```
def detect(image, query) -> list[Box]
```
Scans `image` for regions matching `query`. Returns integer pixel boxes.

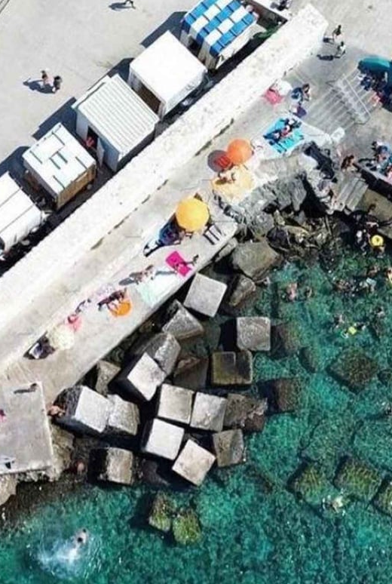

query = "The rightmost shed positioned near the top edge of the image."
[178,0,259,74]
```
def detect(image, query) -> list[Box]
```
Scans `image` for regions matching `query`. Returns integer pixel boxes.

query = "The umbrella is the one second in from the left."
[170,199,209,236]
